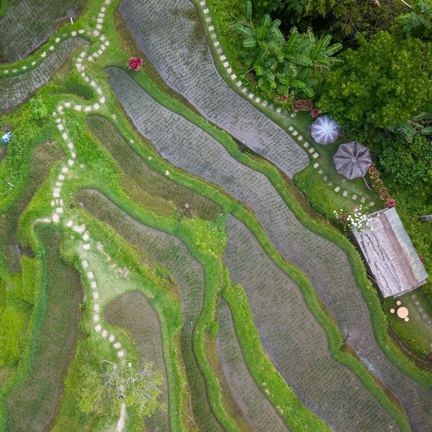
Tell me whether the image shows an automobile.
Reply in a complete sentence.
No, I can't see a single automobile in this photo.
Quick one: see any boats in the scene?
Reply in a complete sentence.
No, no boat can be seen from above.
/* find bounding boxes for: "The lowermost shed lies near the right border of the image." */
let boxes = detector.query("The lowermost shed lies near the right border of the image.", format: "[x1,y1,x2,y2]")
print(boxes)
[349,204,429,297]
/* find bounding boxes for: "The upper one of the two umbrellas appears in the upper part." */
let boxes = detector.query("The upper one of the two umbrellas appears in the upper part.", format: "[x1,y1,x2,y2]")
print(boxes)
[310,116,337,144]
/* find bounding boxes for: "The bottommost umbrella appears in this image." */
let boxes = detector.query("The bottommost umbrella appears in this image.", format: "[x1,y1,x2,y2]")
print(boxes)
[330,141,369,179]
